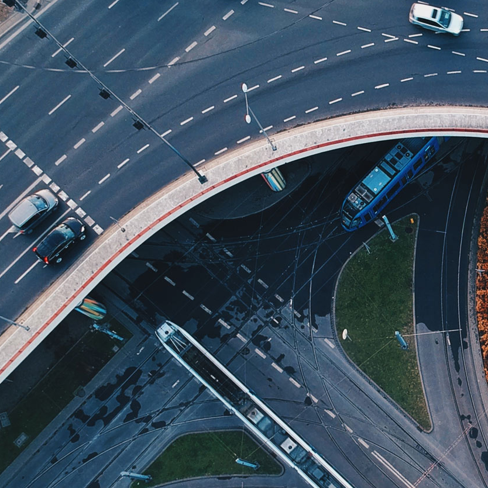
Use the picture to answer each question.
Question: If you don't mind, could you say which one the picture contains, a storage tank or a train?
train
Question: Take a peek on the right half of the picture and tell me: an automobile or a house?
automobile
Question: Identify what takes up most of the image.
paved ground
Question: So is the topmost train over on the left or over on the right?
right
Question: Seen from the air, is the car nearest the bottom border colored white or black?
black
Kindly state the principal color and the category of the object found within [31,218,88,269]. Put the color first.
black car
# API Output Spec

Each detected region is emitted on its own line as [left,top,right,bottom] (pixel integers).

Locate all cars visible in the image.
[5,186,62,233]
[408,0,466,38]
[31,218,88,269]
